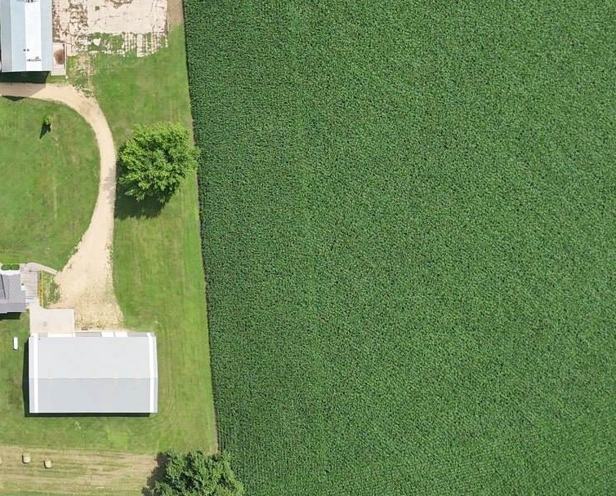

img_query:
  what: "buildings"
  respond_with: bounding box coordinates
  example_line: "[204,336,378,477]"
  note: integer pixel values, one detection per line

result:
[29,332,159,413]
[0,0,53,72]
[0,266,26,313]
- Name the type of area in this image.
farmland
